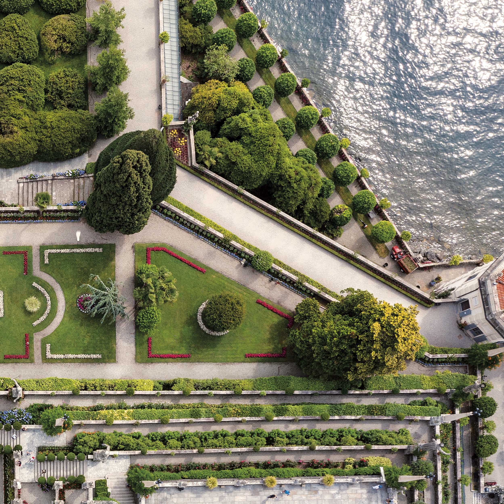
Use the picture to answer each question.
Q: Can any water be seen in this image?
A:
Yes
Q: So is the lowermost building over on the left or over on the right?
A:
right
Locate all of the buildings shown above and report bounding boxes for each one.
[440,250,504,353]
[162,0,182,120]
